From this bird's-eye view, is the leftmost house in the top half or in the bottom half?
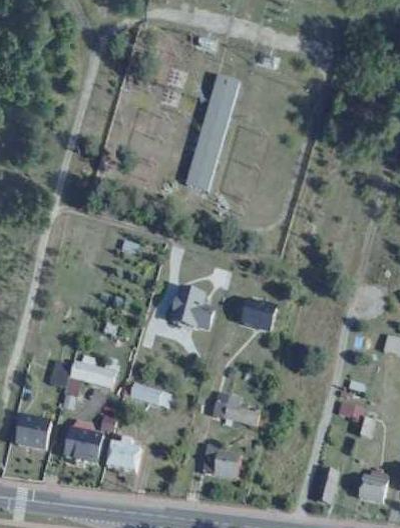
bottom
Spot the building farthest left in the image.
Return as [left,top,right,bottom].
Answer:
[10,413,54,450]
